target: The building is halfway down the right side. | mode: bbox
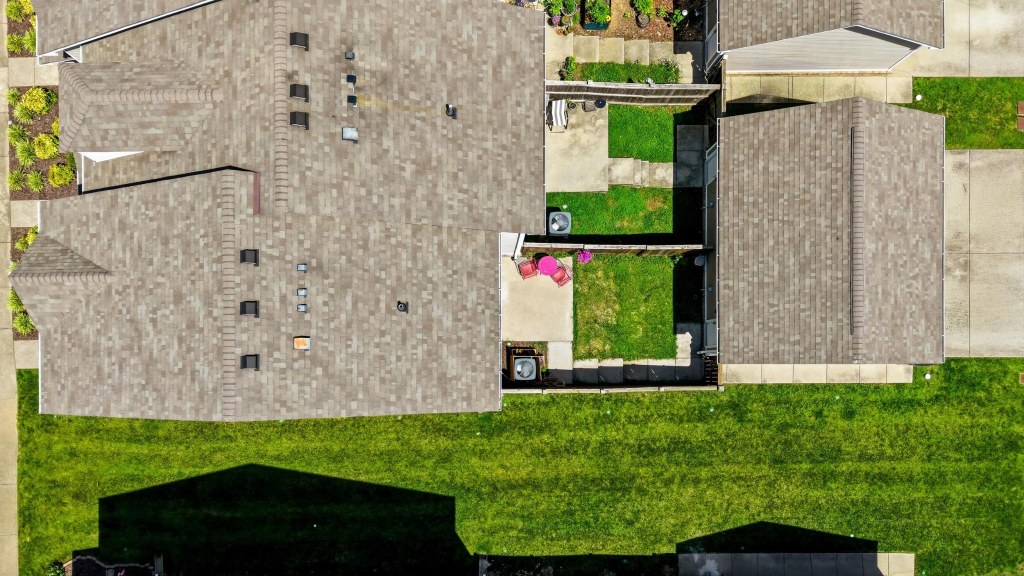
[683,97,946,364]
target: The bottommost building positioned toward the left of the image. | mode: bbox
[9,172,503,421]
